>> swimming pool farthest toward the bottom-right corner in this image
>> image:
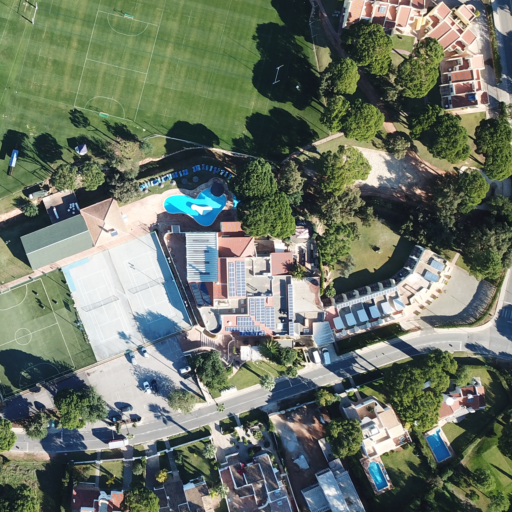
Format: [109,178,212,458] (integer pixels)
[426,430,453,464]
